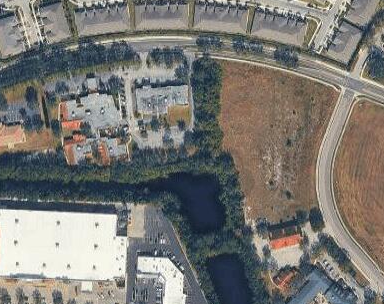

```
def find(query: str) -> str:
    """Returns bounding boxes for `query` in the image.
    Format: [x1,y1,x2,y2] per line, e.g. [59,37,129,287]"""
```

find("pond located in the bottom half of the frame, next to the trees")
[120,172,225,232]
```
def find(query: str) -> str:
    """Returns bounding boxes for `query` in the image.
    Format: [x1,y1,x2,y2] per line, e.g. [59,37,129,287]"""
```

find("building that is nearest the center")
[136,85,189,113]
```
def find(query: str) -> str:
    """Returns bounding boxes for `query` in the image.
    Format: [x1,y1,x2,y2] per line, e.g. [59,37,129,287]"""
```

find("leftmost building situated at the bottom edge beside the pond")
[0,209,128,292]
